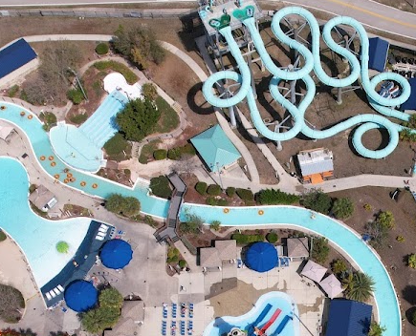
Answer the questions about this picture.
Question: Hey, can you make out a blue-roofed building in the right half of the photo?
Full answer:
Yes, the scene does show a blue-roofed building in the right half of the photo.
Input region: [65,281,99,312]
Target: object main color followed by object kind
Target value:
blue umbrella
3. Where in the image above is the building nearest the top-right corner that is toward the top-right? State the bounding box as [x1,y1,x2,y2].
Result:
[369,38,389,76]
